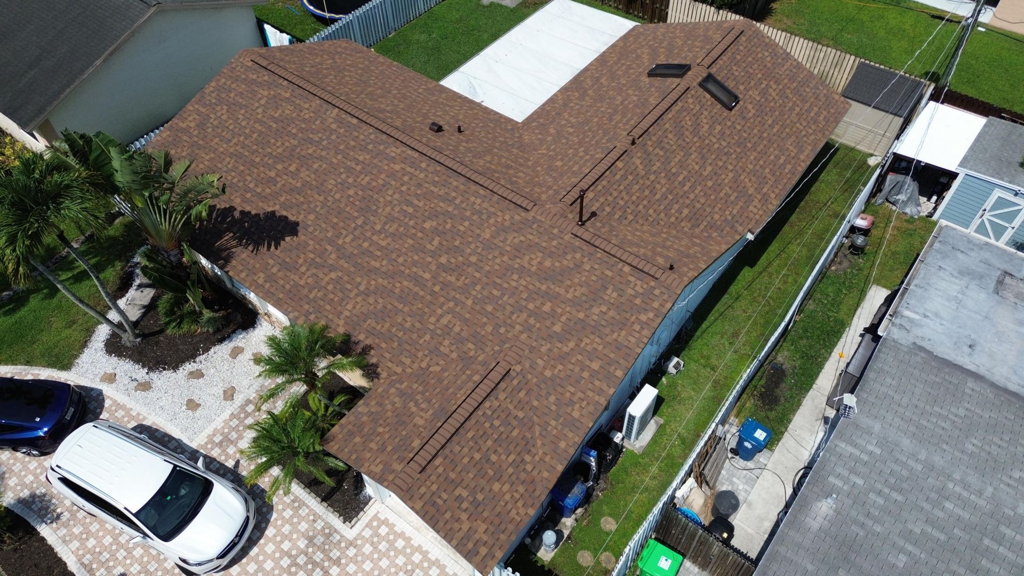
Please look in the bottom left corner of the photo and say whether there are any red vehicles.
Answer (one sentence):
No, there is no red vehicle in the bottom left corner of the photo.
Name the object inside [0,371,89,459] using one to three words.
car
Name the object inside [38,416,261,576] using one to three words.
car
